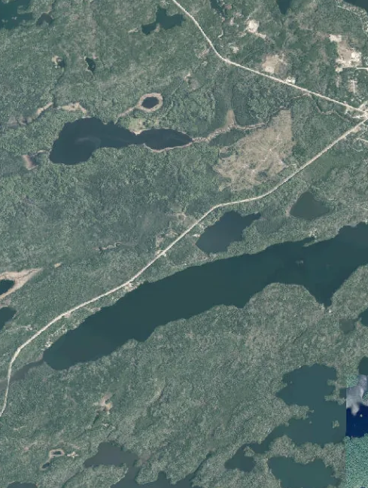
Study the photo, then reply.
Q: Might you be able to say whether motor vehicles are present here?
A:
No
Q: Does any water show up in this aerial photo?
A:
Yes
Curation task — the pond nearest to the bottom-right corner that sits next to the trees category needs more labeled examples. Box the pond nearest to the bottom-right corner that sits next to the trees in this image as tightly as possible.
[268,455,339,488]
